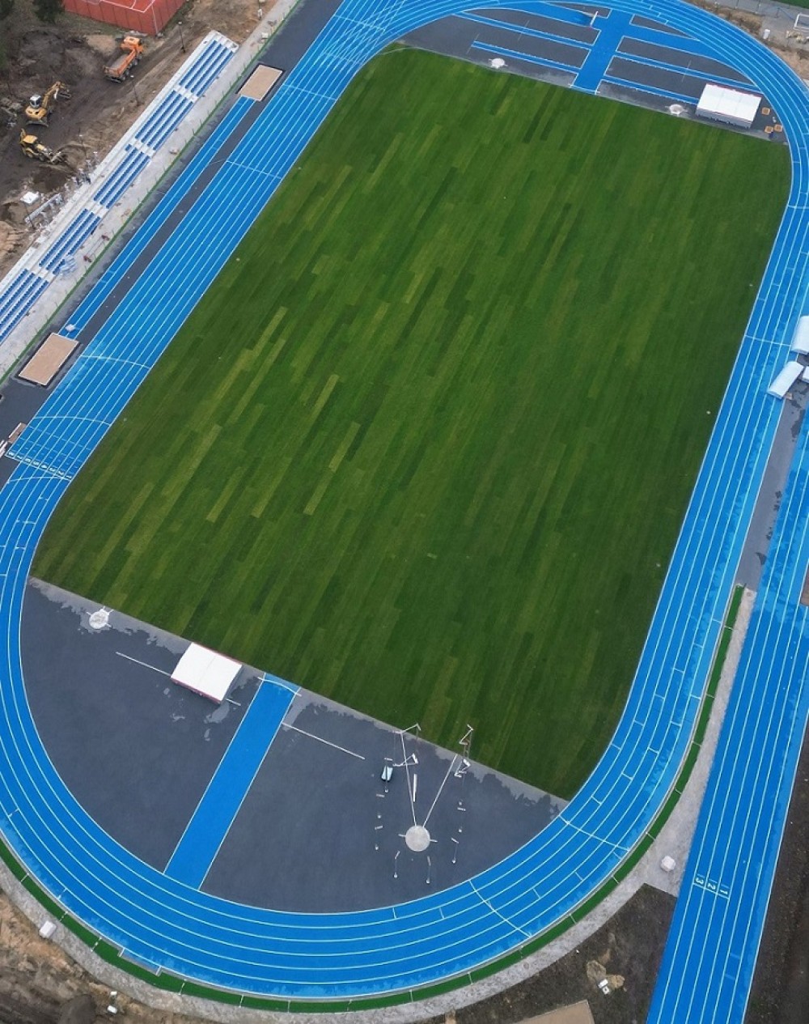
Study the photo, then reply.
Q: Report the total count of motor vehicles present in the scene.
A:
3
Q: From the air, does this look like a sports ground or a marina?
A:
sports ground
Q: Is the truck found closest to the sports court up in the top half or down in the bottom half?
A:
top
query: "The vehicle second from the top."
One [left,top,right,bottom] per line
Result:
[27,80,75,130]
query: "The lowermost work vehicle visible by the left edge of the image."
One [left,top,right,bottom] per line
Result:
[22,132,64,163]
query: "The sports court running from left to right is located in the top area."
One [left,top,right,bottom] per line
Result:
[64,0,187,37]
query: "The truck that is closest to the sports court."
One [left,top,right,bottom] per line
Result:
[104,40,144,82]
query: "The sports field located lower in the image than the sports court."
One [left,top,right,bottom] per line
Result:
[29,42,792,803]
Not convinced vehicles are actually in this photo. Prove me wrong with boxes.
[22,132,64,163]
[104,40,144,82]
[27,80,75,130]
